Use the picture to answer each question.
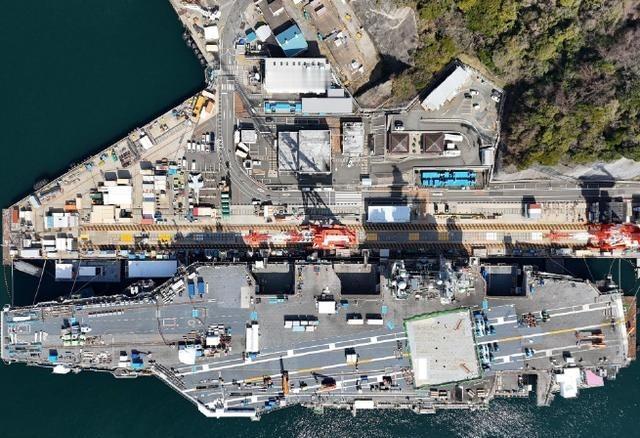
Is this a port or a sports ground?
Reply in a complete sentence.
The area seen from above is a port.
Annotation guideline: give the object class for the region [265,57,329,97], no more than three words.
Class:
building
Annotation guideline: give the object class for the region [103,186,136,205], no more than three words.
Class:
shed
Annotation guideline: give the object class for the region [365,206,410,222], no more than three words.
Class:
shed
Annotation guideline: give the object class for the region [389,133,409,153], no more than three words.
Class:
building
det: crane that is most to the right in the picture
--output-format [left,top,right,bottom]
[528,227,640,250]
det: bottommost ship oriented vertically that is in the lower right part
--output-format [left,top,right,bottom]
[623,296,637,360]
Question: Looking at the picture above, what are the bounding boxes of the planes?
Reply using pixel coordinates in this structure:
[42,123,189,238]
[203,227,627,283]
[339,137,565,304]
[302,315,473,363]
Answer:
[188,172,203,206]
